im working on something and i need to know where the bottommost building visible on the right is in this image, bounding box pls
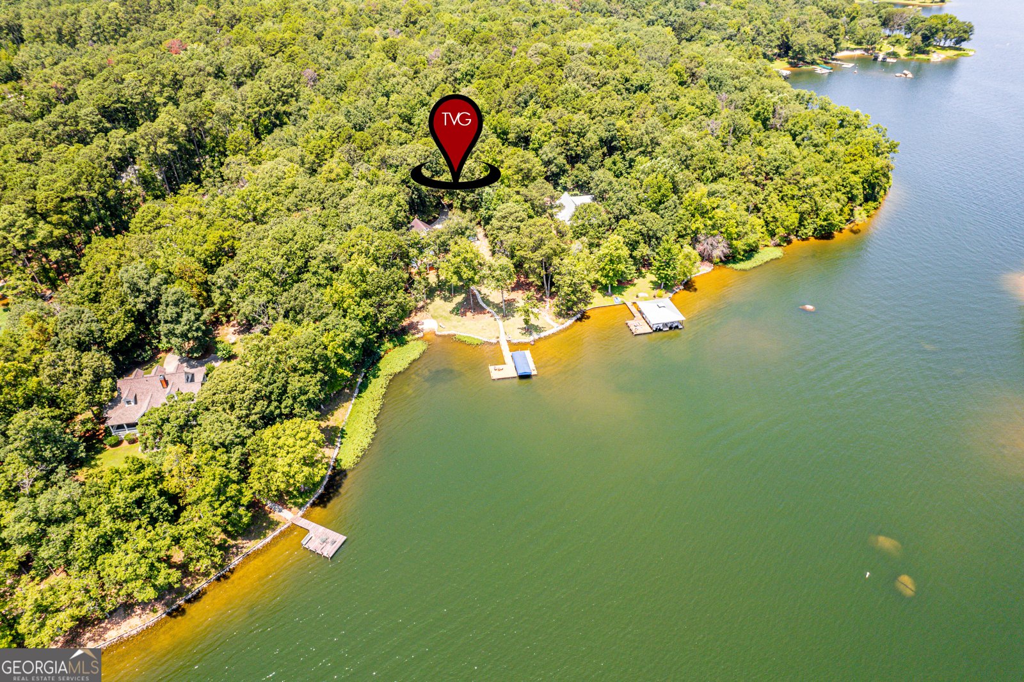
[637,298,686,340]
